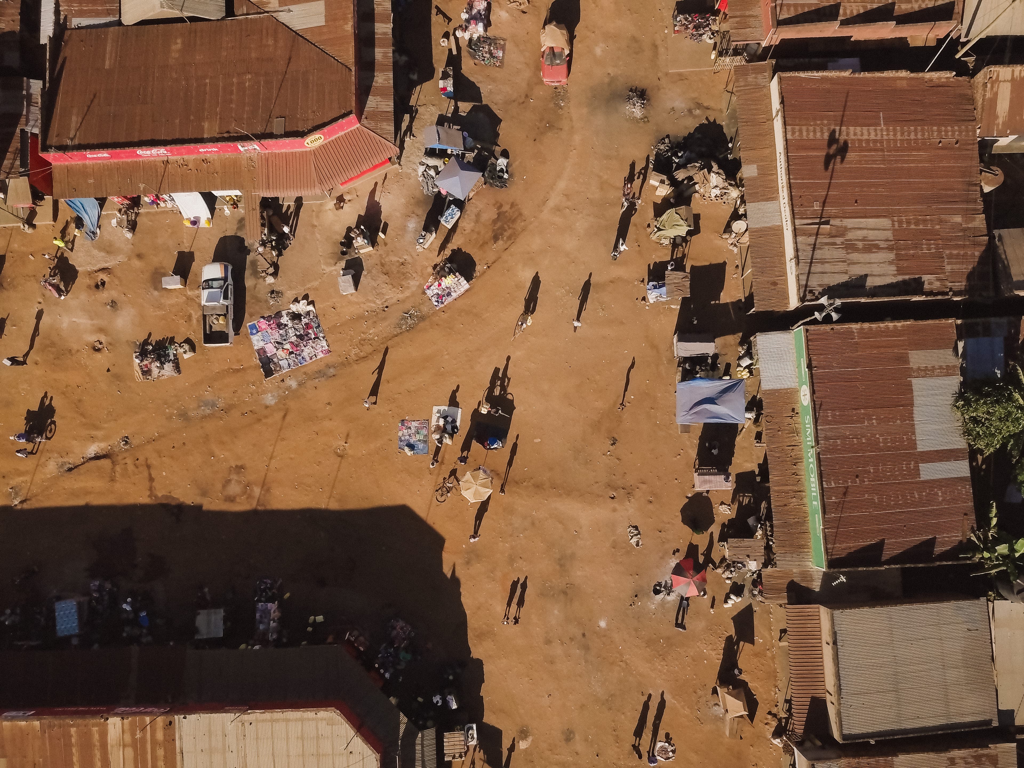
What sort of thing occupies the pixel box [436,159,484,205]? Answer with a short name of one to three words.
umbrella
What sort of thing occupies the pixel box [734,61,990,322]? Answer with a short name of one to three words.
building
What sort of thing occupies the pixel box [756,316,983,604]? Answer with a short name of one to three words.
building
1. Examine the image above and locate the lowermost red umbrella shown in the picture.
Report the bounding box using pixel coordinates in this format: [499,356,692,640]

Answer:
[670,558,709,598]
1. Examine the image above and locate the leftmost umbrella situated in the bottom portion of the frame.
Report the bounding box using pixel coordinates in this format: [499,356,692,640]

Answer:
[458,467,495,504]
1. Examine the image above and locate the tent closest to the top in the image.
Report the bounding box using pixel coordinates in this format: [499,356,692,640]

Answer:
[425,125,463,158]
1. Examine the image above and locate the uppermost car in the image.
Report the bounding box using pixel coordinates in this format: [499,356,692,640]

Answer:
[540,49,571,87]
